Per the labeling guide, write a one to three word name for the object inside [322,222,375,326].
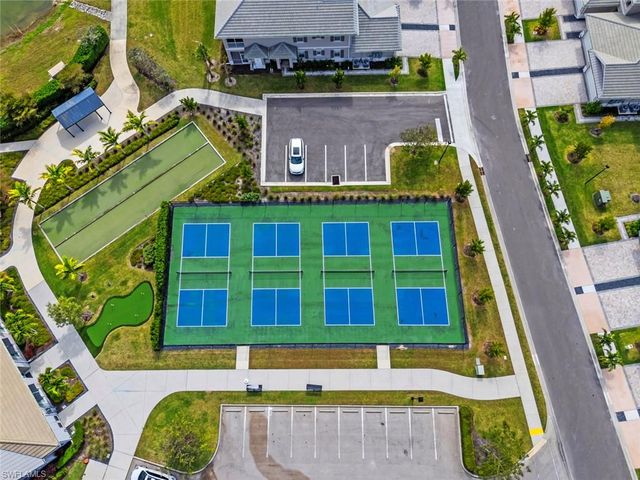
sports court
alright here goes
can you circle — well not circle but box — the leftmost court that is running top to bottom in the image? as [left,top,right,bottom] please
[176,223,231,327]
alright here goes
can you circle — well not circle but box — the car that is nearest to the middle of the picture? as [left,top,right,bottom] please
[288,138,306,176]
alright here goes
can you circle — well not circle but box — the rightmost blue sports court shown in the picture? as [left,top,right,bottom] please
[392,221,448,324]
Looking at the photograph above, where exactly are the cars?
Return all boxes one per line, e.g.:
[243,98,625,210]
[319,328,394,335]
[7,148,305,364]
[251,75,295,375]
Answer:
[128,466,178,480]
[288,138,306,176]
